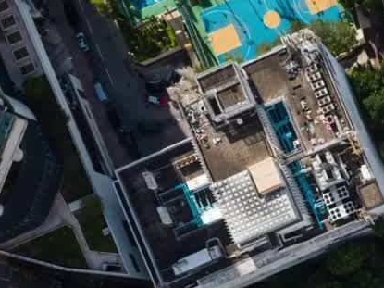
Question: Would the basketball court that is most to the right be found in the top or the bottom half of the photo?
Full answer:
The basketball court that is most to the right sits in the top half of the picture.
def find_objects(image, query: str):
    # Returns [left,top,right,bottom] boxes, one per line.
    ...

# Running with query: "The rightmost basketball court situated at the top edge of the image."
[190,0,353,64]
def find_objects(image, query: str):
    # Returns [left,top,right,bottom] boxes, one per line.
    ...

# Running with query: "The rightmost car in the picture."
[146,93,170,106]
